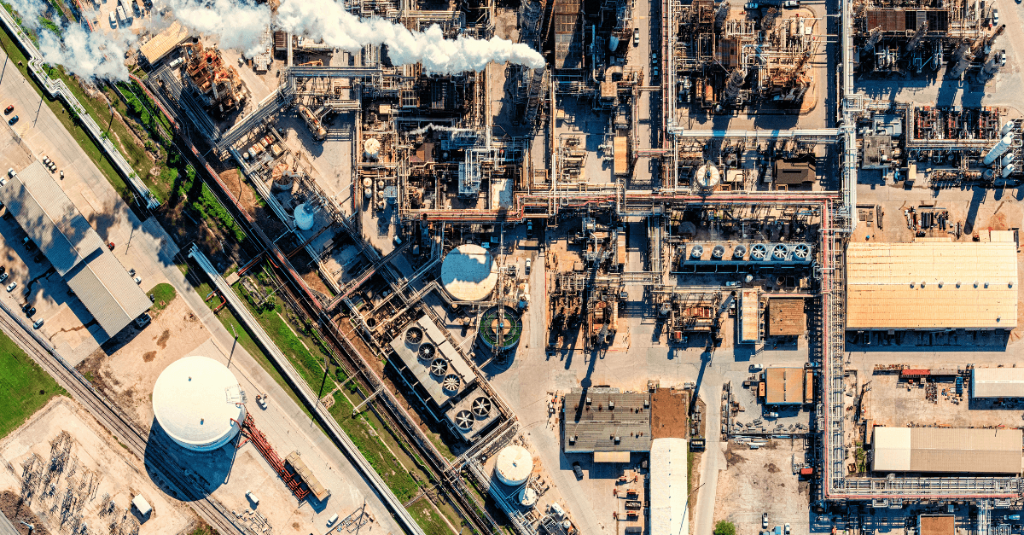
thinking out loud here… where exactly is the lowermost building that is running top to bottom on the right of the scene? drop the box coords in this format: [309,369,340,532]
[648,438,687,535]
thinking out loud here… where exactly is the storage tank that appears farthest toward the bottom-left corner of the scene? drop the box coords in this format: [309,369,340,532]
[152,354,249,457]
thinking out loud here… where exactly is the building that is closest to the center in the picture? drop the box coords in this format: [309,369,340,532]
[492,179,512,212]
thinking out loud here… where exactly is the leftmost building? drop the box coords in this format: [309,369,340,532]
[0,160,104,282]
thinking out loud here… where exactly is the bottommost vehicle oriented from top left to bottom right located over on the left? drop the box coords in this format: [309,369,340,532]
[245,490,260,505]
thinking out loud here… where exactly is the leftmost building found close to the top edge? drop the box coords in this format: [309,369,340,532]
[140,19,187,71]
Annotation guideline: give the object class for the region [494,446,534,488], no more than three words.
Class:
storage tank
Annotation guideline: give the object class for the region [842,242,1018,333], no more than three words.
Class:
building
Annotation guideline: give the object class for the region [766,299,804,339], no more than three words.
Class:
building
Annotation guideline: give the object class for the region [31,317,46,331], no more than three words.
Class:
vehicle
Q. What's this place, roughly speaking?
industrial area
